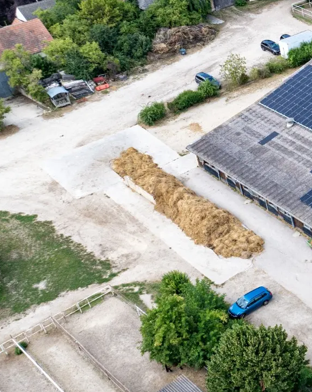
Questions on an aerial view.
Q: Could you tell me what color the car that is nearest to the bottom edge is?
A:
blue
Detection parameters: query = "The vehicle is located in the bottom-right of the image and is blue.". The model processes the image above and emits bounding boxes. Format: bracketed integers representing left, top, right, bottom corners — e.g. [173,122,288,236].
[228,292,276,321]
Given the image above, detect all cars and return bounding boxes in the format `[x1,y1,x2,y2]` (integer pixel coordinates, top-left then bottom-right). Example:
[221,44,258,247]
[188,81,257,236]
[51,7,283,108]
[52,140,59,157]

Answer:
[276,33,288,45]
[192,72,221,86]
[228,292,276,321]
[257,41,282,56]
